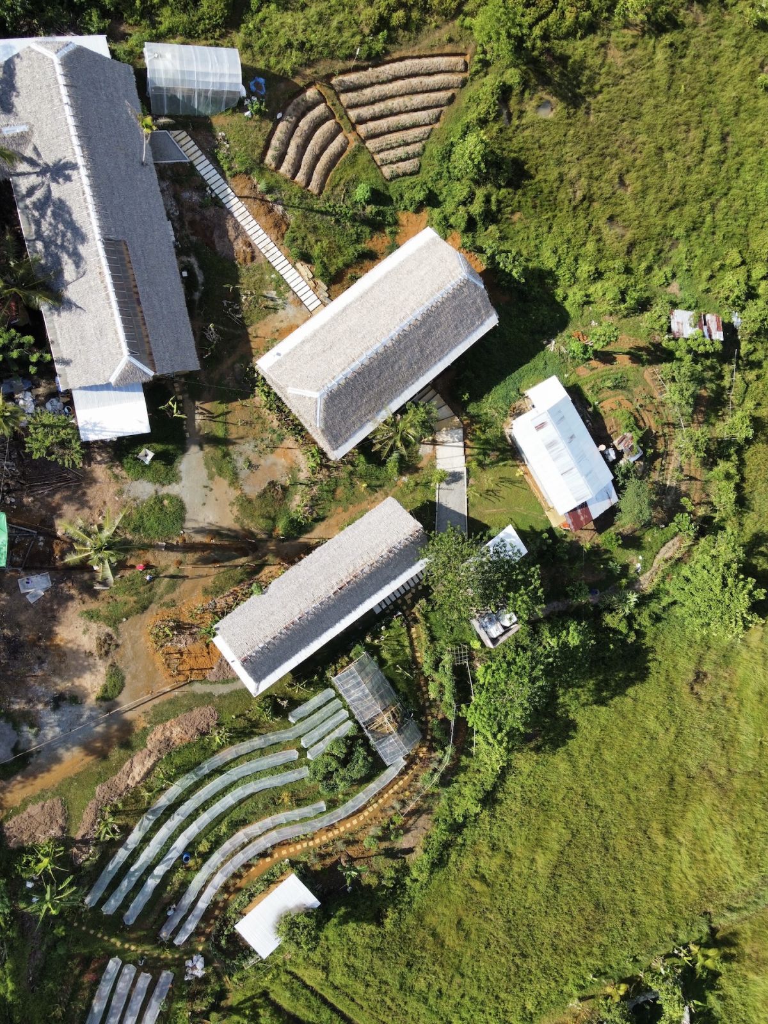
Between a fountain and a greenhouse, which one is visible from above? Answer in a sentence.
The one in the frame is a greenhouse.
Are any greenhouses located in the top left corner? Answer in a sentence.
Yes, a greenhouse appears in the top left corner.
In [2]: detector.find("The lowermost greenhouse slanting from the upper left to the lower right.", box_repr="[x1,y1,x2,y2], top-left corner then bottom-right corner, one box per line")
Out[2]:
[332,647,422,766]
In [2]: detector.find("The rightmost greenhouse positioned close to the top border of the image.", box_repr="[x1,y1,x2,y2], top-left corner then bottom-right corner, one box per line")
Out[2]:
[141,44,244,114]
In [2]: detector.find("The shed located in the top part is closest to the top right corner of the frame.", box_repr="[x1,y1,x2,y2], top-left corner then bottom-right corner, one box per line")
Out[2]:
[662,310,724,344]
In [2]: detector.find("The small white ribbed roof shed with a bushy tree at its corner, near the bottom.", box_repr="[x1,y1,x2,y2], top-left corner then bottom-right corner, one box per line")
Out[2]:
[236,859,321,969]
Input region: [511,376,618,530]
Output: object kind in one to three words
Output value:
house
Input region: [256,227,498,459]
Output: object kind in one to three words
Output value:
house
